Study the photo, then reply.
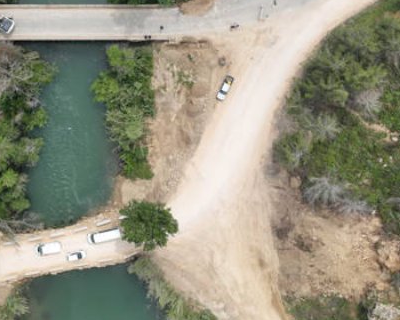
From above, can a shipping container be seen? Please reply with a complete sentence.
No, the frame has no shipping container in it.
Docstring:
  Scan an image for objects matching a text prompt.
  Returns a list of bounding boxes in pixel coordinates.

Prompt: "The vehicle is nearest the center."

[216,75,234,101]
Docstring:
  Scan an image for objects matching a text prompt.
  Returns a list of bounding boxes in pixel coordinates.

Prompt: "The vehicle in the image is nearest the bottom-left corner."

[37,242,62,254]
